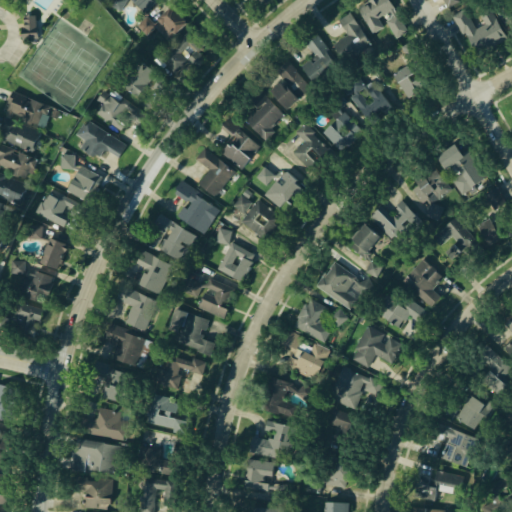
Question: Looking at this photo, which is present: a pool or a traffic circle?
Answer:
pool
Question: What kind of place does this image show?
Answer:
residential area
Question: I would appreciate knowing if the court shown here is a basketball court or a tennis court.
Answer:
tennis court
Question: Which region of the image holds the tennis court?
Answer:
top left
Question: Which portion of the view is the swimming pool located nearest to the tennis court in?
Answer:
top left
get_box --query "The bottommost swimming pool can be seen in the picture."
[276,464,298,482]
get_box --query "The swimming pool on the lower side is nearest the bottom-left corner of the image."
[156,431,178,460]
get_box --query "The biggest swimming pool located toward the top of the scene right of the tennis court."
[121,4,140,28]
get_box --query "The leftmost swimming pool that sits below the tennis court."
[18,238,48,256]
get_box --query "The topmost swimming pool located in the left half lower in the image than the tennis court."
[51,165,76,188]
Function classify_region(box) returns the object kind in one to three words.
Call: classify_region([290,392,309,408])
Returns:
swimming pool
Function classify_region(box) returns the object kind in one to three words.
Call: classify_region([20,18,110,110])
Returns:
tennis court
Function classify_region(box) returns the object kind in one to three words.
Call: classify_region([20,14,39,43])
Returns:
building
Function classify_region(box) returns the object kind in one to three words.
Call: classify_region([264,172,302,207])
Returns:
house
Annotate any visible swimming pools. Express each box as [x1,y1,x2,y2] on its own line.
[276,464,298,482]
[121,4,140,28]
[316,116,330,126]
[27,0,65,24]
[18,238,48,256]
[51,165,76,188]
[290,392,309,408]
[156,431,178,460]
